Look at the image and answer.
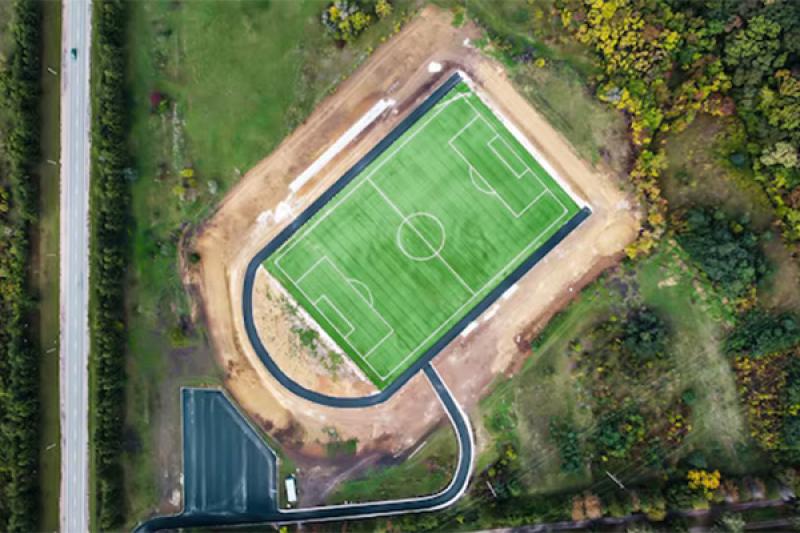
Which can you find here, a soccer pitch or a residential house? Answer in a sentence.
The one in the frame is a soccer pitch.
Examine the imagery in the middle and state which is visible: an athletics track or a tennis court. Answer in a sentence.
Visible in the middle is an athletics track.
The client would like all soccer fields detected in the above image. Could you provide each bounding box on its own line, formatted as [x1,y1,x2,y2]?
[263,80,580,391]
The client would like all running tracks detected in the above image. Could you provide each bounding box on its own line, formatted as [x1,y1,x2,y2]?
[242,73,591,408]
